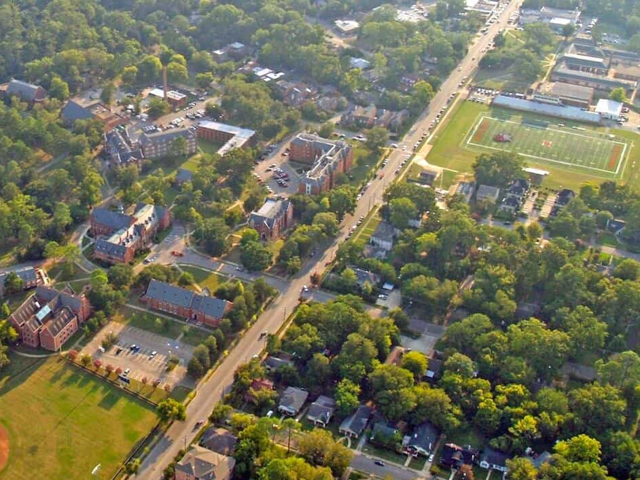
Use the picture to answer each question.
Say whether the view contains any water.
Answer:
No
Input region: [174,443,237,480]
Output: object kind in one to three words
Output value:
building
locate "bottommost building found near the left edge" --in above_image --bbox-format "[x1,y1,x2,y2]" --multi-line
[7,281,94,350]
